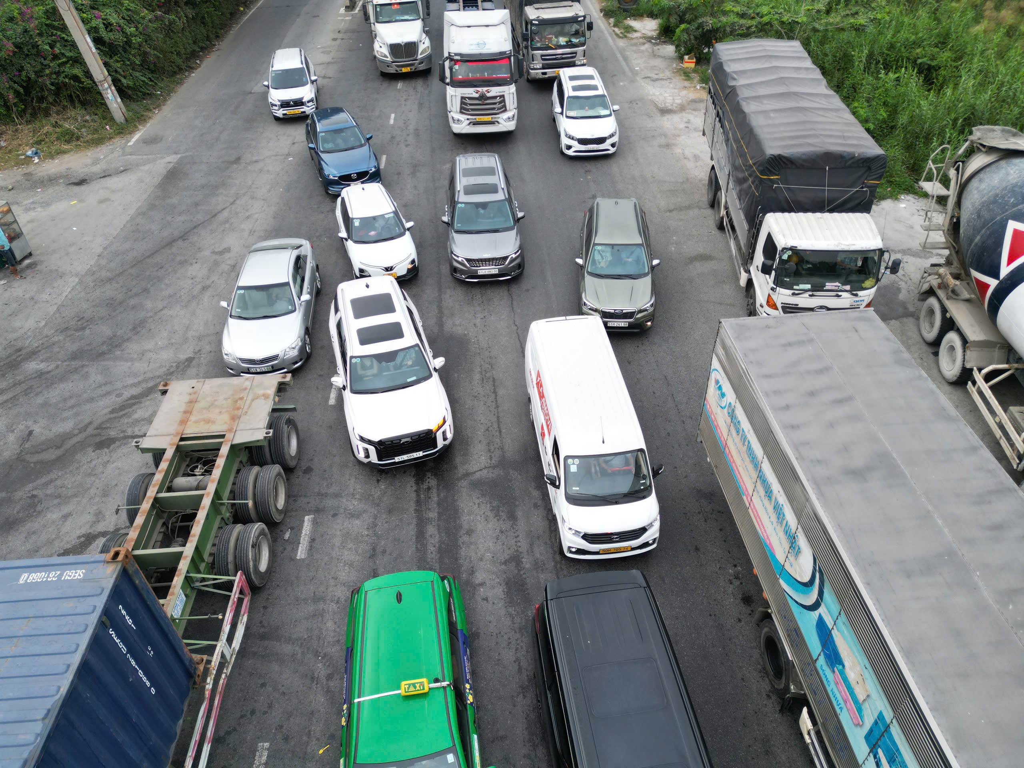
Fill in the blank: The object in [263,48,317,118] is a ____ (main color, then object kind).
white car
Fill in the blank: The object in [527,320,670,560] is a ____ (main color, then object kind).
white van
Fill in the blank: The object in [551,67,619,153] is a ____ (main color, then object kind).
white car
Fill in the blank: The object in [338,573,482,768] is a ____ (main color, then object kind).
green car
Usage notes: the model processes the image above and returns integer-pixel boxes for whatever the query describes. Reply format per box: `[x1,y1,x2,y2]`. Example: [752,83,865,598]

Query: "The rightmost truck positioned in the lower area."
[692,308,1024,768]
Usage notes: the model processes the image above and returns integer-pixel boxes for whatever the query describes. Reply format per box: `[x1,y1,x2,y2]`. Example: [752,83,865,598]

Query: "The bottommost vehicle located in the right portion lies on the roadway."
[529,572,719,768]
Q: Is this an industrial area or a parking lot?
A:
parking lot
